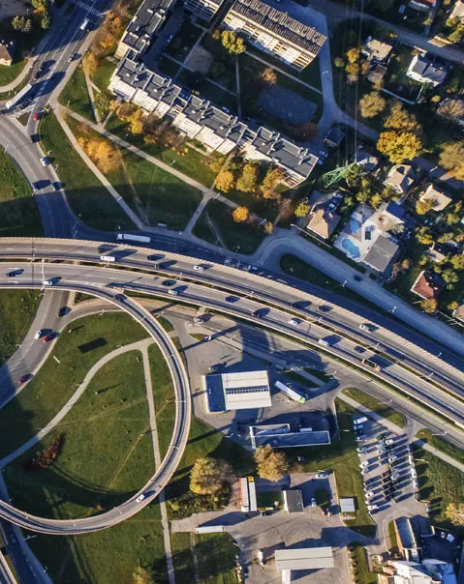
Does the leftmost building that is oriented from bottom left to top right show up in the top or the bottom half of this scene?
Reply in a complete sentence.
The leftmost building that is oriented from bottom left to top right sits in the top half of the picture.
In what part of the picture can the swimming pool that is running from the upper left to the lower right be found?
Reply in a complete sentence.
The swimming pool that is running from the upper left to the lower right sits in the right section of the image.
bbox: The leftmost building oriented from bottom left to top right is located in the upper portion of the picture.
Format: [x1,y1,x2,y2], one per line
[115,0,175,64]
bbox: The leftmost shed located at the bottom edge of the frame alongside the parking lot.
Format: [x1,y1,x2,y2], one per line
[269,542,336,570]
